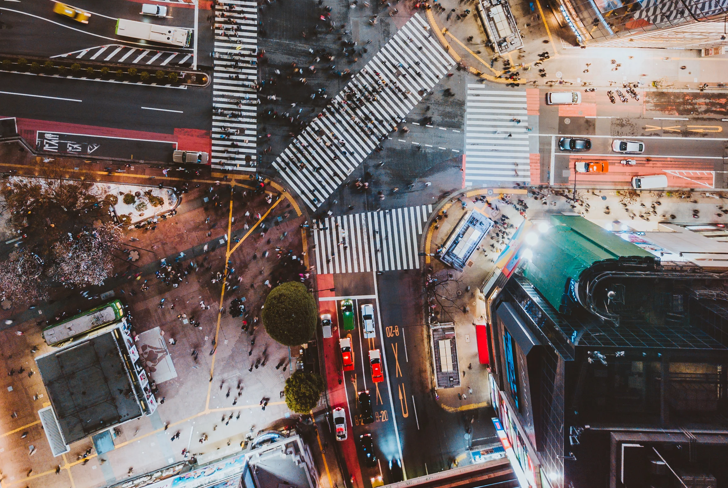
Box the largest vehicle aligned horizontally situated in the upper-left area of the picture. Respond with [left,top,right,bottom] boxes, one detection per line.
[114,17,194,49]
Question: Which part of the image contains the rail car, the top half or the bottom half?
bottom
